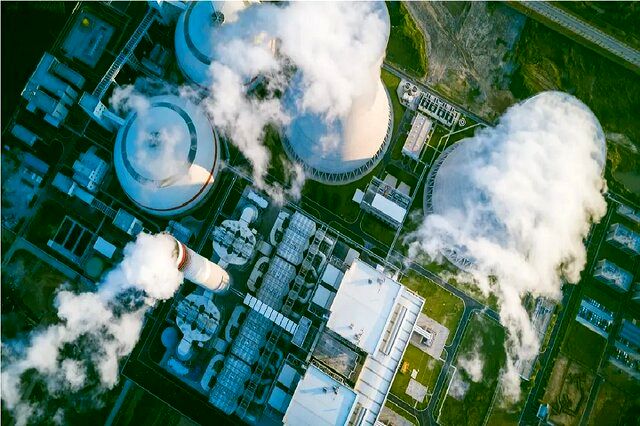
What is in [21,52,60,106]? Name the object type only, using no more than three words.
building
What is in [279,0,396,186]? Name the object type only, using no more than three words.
cooling tower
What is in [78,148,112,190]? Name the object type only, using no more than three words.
house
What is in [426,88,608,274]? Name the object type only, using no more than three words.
cooling tower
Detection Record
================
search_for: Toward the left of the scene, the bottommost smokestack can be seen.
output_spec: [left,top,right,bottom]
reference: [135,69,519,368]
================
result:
[161,238,234,297]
